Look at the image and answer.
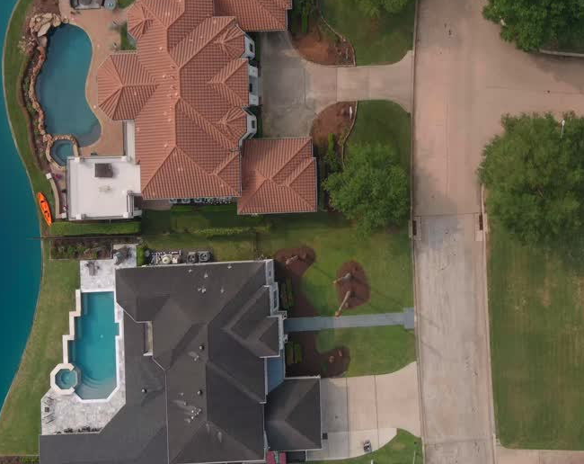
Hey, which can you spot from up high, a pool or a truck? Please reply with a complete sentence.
It is a pool that can be seen here.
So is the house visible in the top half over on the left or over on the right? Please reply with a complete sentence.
The house visible in the top half appears in the left half of the scene.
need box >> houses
[39,256,323,464]
[67,0,318,218]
